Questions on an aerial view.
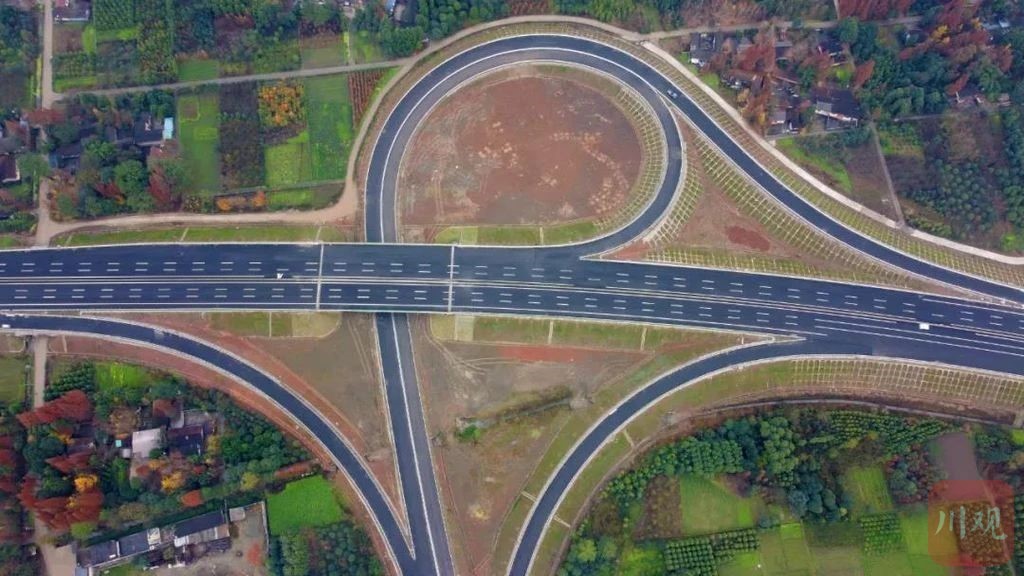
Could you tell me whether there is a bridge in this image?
Yes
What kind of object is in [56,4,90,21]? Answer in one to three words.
house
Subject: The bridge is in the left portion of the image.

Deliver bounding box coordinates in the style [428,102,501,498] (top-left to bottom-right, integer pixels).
[317,242,454,315]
